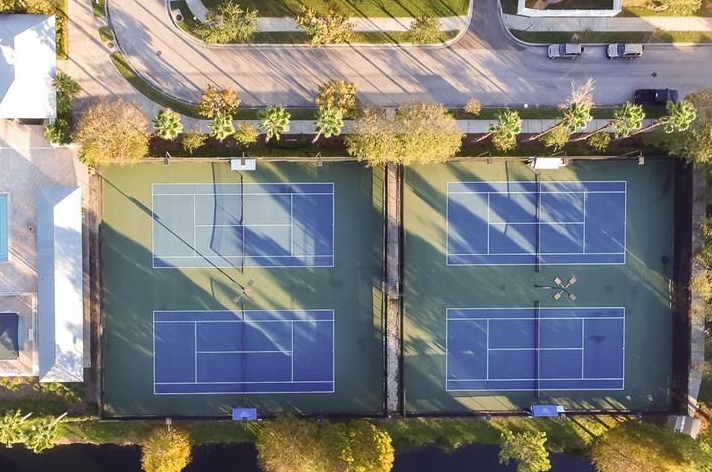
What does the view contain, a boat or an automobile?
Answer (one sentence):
The image shows an automobile.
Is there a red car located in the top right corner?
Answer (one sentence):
No, the scene shows no red car in the top right corner.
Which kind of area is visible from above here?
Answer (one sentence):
The picture captures a sports ground.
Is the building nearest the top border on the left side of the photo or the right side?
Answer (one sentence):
The building nearest the top border appears in the left half of the scene.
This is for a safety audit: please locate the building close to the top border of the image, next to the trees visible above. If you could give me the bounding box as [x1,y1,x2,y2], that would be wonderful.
[0,14,57,120]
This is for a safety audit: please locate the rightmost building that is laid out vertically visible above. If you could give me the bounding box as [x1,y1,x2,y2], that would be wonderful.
[36,186,84,382]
